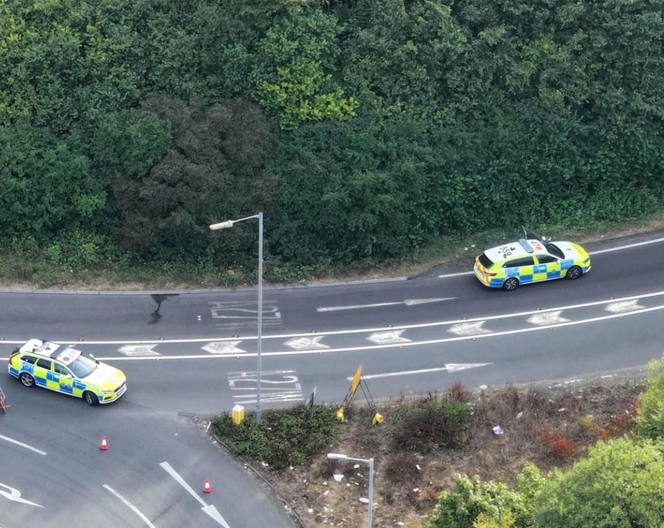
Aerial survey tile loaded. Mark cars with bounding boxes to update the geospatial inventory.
[473,225,591,290]
[7,338,127,405]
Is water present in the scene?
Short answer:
No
